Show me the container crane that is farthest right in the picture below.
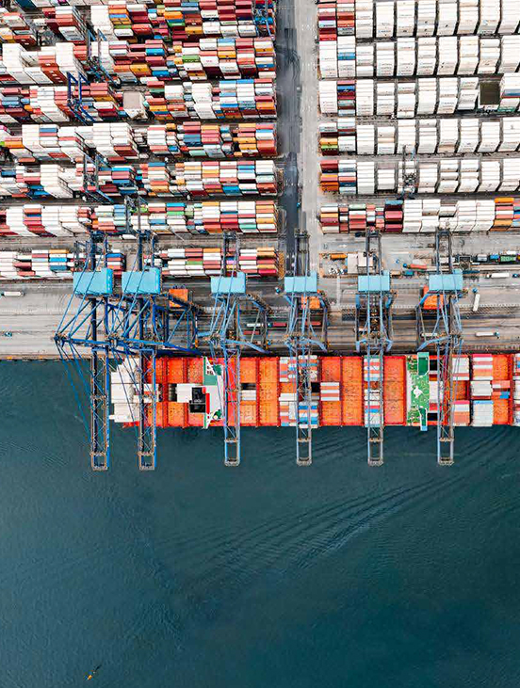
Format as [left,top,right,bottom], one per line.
[408,230,466,468]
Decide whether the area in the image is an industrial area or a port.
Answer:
port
